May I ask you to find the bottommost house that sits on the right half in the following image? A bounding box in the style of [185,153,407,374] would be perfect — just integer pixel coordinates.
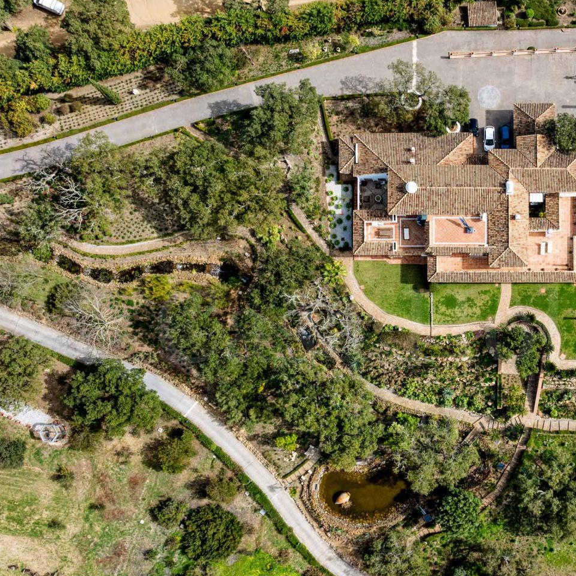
[338,103,576,283]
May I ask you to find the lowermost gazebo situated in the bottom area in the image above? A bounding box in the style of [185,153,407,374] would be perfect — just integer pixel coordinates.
[36,420,64,444]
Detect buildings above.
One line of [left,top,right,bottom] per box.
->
[468,0,496,30]
[338,103,576,283]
